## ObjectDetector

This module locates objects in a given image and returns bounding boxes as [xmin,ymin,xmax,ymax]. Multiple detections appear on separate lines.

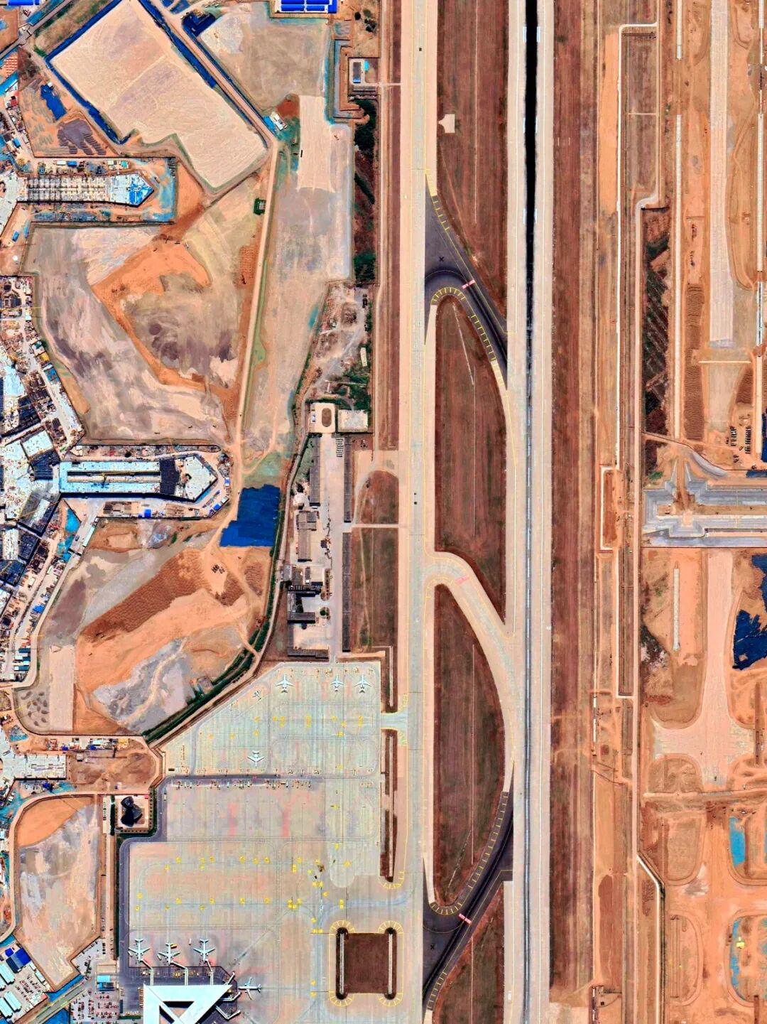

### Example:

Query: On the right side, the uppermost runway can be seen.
[710,0,733,340]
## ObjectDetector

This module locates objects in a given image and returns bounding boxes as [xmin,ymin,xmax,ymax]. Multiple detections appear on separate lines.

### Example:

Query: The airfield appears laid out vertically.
[119,0,554,1024]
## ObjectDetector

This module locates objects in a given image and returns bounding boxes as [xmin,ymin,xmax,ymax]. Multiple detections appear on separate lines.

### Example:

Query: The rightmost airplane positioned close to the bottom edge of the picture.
[239,977,262,999]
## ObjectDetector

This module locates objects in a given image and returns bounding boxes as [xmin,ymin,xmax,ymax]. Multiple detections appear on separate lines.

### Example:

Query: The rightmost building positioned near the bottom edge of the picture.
[142,986,231,1024]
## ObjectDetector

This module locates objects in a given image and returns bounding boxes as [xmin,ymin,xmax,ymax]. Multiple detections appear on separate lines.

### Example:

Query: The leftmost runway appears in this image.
[504,0,554,1024]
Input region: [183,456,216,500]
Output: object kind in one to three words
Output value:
building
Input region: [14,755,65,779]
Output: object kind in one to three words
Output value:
building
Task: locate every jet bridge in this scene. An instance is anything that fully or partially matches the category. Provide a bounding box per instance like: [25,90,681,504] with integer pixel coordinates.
[140,959,153,986]
[214,1005,242,1021]
[205,959,213,986]
[225,972,235,986]
[221,992,241,1002]
[171,960,187,986]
